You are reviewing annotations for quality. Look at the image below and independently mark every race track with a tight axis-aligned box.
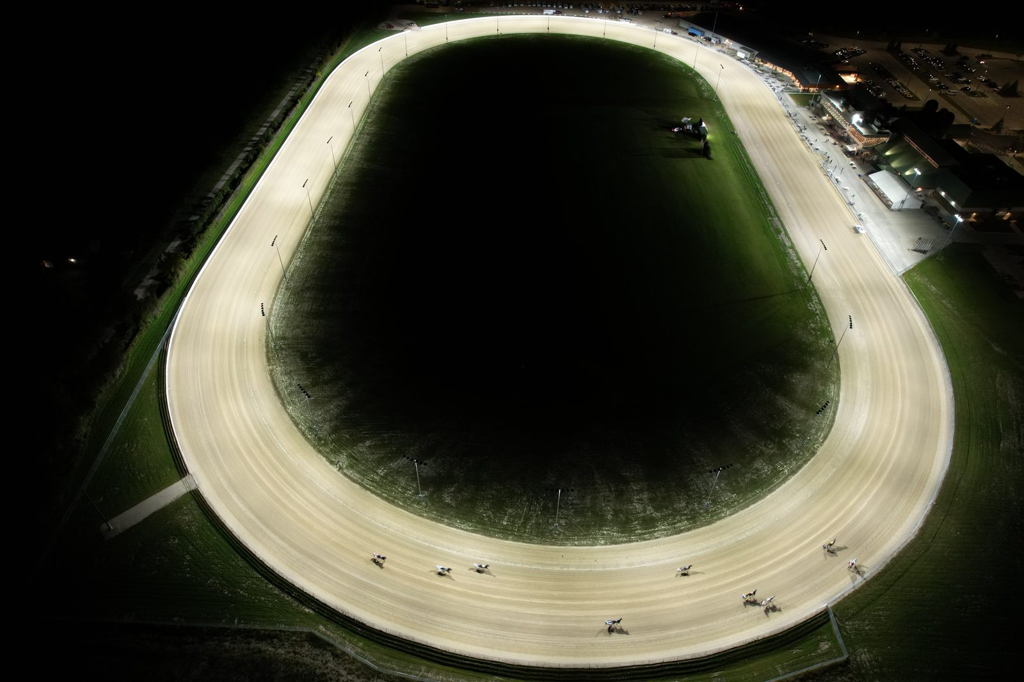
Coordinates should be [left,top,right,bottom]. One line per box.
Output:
[166,15,955,669]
